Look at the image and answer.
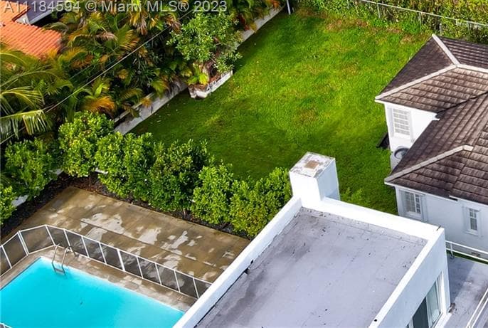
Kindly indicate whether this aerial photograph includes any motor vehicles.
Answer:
No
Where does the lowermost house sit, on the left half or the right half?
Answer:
right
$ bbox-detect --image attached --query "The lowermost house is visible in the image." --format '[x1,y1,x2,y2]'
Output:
[173,147,488,328]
